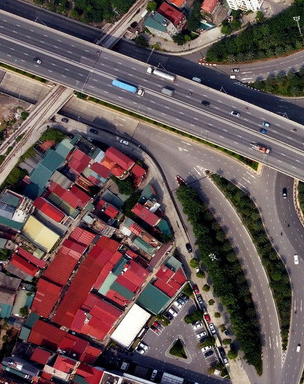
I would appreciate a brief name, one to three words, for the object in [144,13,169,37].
house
